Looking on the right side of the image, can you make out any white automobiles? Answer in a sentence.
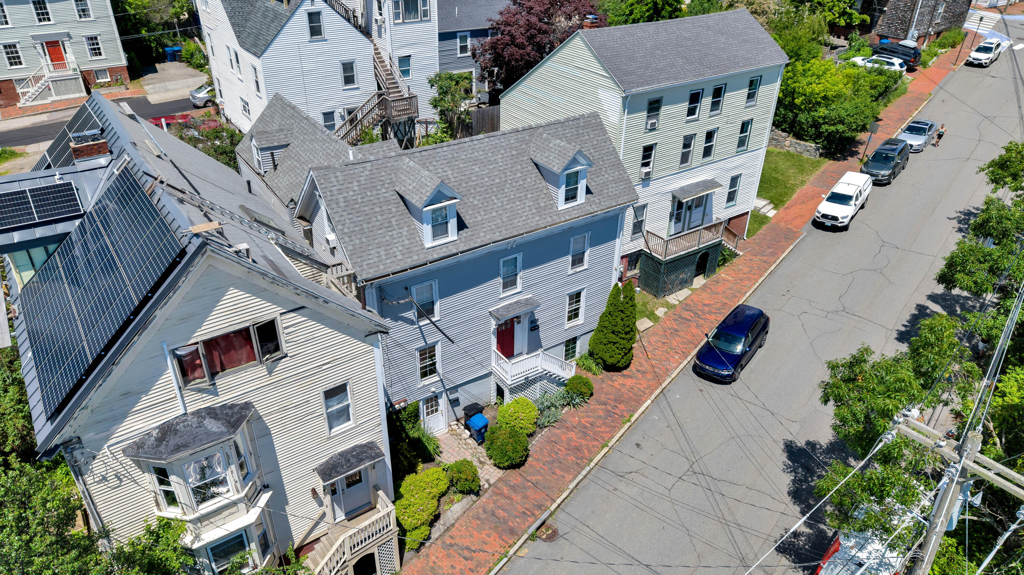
Yes, on the right side of the image there is a white automobile.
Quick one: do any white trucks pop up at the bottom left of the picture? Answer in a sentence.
No, no white truck is visible at the bottom left of the picture.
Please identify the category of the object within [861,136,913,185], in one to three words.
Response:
car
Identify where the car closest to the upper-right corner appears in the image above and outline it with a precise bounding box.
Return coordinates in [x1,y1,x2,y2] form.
[966,36,1003,67]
